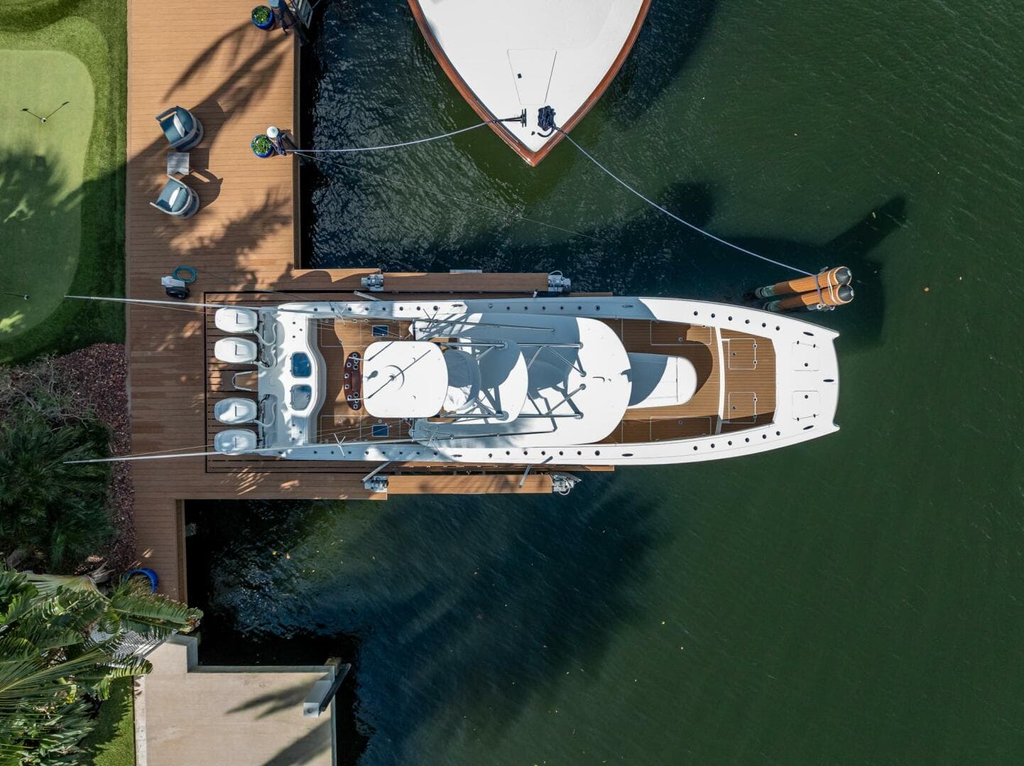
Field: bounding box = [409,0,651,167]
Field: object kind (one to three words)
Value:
boat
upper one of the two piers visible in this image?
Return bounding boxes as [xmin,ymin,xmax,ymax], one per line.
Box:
[127,0,391,642]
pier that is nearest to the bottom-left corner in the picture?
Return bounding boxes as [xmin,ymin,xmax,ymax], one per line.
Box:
[134,631,342,766]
